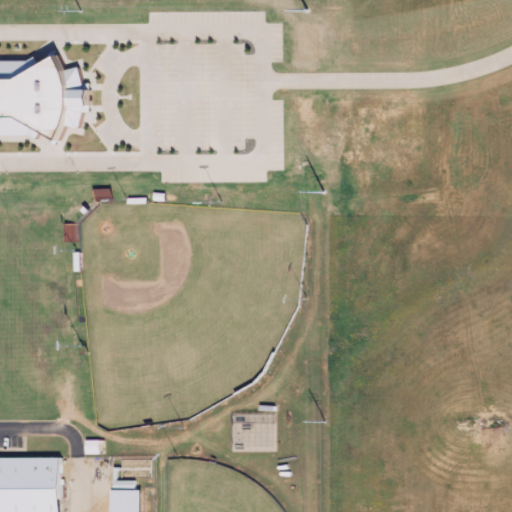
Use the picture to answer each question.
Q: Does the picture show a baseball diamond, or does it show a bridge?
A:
baseball diamond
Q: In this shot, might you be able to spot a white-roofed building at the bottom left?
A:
Yes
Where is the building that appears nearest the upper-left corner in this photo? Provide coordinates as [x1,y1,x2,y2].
[0,56,93,140]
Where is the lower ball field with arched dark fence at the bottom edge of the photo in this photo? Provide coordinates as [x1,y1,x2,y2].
[168,458,276,512]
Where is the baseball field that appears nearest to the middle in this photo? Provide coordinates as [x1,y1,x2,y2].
[76,203,306,430]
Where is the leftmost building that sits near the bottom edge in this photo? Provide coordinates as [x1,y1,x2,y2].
[0,458,62,512]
